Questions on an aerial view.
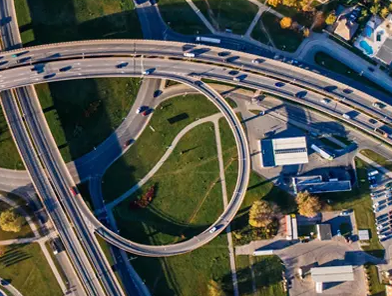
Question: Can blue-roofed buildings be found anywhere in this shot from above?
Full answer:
Yes, a blue-roofed building appears in the view.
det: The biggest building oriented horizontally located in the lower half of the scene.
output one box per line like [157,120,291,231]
[290,175,352,195]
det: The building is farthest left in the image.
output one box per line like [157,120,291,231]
[258,139,275,167]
